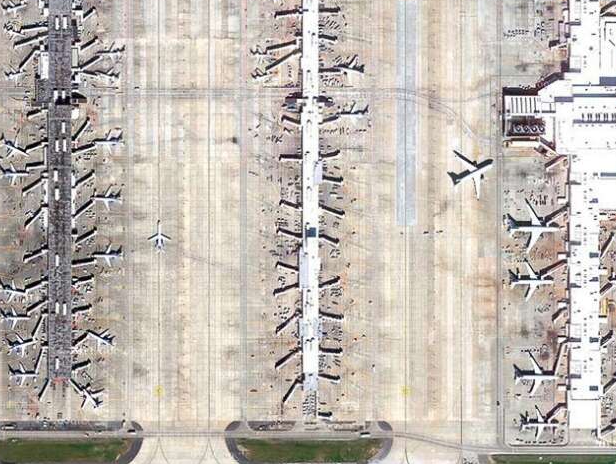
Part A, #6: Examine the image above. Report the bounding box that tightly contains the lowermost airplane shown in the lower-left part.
[80,387,103,410]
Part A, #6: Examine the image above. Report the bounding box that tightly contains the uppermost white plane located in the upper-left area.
[2,0,26,17]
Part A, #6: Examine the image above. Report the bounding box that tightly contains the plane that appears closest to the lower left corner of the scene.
[10,364,38,386]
